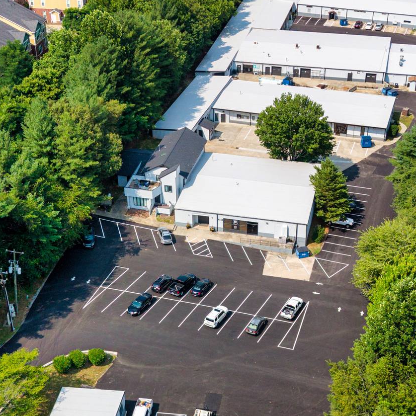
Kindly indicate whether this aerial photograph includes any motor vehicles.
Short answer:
Yes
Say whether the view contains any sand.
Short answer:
No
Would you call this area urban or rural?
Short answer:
urban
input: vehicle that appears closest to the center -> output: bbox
[156,226,174,245]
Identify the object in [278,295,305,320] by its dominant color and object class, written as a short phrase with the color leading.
white truck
